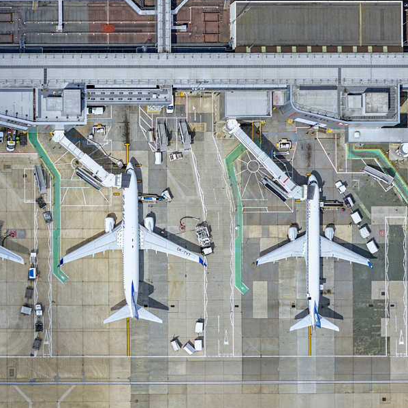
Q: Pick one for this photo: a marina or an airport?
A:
airport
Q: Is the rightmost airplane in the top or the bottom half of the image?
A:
bottom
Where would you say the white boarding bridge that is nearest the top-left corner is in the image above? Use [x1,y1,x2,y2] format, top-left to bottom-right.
[50,129,134,189]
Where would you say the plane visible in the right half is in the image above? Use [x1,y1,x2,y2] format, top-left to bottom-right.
[256,200,375,332]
